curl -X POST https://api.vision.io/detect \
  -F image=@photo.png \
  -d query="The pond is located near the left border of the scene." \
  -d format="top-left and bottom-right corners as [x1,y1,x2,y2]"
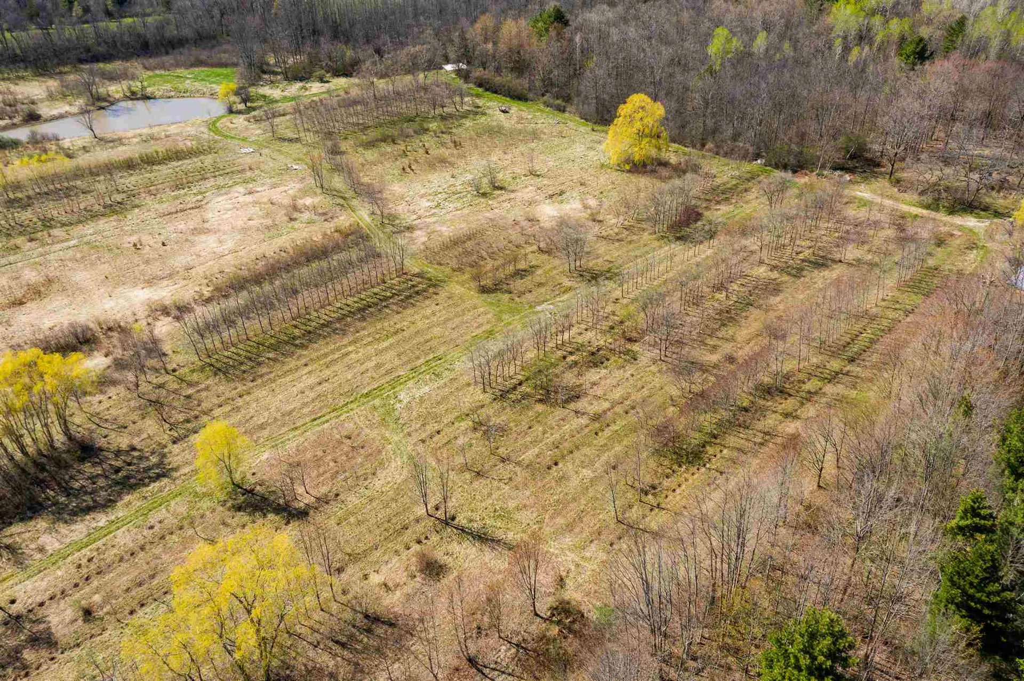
[0,97,232,142]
